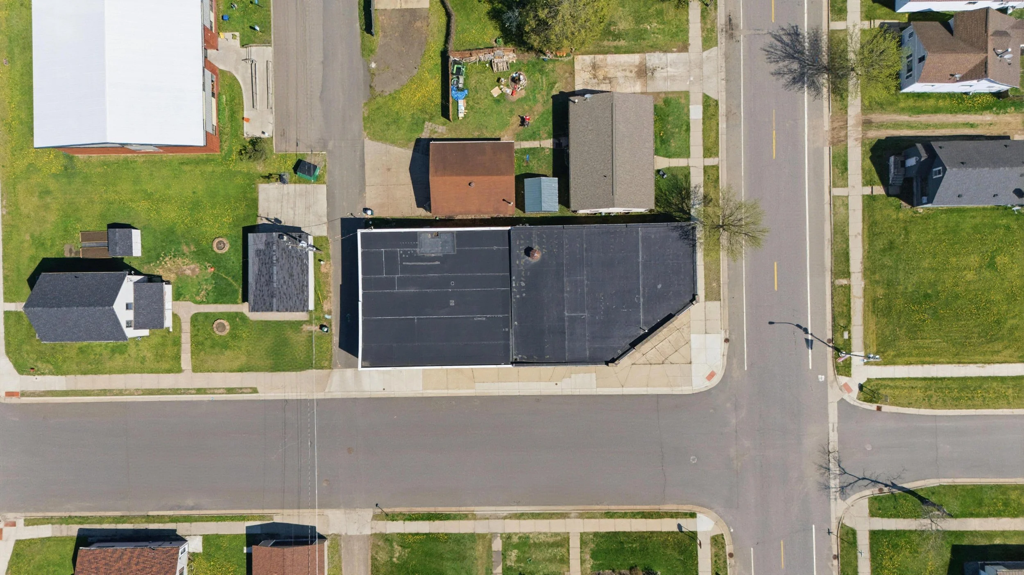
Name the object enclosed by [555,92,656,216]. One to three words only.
house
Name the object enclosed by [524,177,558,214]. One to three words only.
shed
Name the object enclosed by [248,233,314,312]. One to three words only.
building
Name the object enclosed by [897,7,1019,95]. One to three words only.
house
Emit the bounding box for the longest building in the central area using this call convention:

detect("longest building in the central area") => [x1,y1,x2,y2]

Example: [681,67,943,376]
[358,218,702,370]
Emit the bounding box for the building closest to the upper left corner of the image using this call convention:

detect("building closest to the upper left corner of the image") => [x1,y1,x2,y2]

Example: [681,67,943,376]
[32,0,220,156]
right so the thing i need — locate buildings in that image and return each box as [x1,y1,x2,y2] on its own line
[23,271,172,343]
[429,140,515,215]
[358,218,702,370]
[108,228,142,257]
[74,539,190,575]
[32,0,220,156]
[524,177,558,214]
[897,7,1019,95]
[555,92,656,216]
[248,233,314,312]
[252,540,328,575]
[891,140,1024,207]
[965,559,1024,575]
